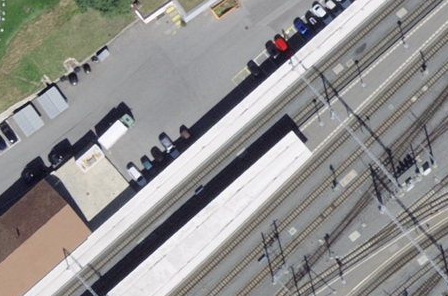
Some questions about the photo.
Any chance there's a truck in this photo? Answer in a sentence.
Yes, the frame does contain a truck.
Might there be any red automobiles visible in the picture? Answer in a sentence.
Yes, the image includes a red automobile.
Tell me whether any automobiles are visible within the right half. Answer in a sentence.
Yes, an automobile is visible within the right half.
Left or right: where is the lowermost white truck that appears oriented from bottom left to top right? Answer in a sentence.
It is on the left.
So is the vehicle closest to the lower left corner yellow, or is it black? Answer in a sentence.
In this view, the vehicle closest to the lower left corner is black.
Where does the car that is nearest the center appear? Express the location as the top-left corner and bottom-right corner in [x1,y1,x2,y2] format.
[178,126,194,144]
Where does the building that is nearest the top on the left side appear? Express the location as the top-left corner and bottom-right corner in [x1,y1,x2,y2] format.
[38,86,68,118]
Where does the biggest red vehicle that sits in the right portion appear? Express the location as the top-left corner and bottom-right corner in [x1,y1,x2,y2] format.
[272,35,292,58]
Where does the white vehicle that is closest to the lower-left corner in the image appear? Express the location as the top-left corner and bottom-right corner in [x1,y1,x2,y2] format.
[126,163,146,186]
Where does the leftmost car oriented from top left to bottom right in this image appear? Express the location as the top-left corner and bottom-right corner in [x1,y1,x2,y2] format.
[0,122,19,145]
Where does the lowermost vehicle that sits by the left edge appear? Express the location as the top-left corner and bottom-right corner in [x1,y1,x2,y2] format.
[20,158,44,180]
